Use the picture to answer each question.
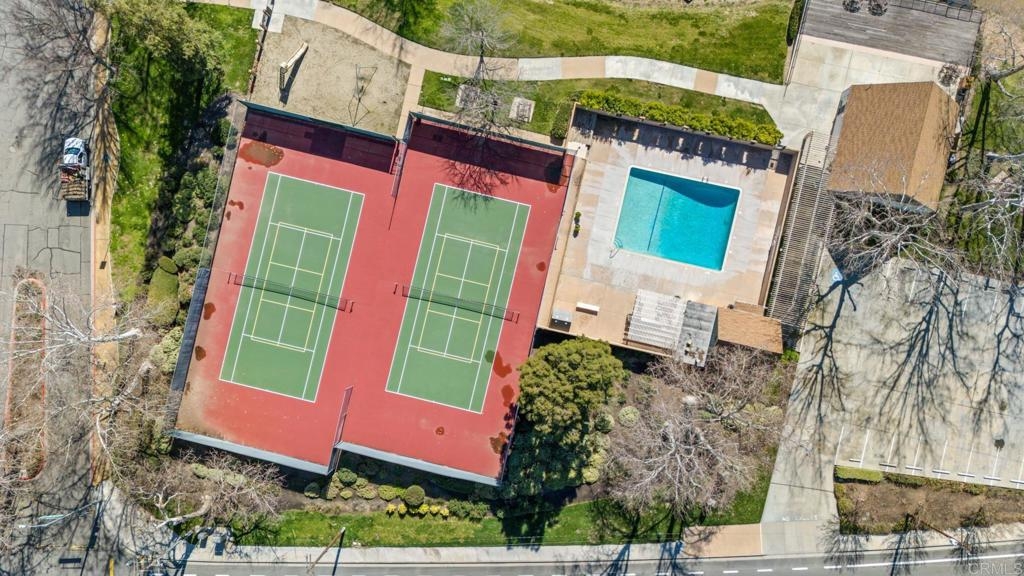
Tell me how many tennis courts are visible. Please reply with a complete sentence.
In total, 2 tennis courts can be seen.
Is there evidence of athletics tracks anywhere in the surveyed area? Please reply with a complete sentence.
No, no athletics track is visible in the scene.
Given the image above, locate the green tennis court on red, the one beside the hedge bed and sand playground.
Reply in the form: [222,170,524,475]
[176,108,407,467]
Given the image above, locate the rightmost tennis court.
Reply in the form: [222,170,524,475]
[336,119,569,480]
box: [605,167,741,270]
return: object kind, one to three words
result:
swimming pool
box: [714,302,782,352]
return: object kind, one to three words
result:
shed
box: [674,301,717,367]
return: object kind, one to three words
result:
building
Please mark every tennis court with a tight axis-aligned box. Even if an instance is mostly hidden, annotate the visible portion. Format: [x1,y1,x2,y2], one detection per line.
[176,108,407,467]
[336,119,569,480]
